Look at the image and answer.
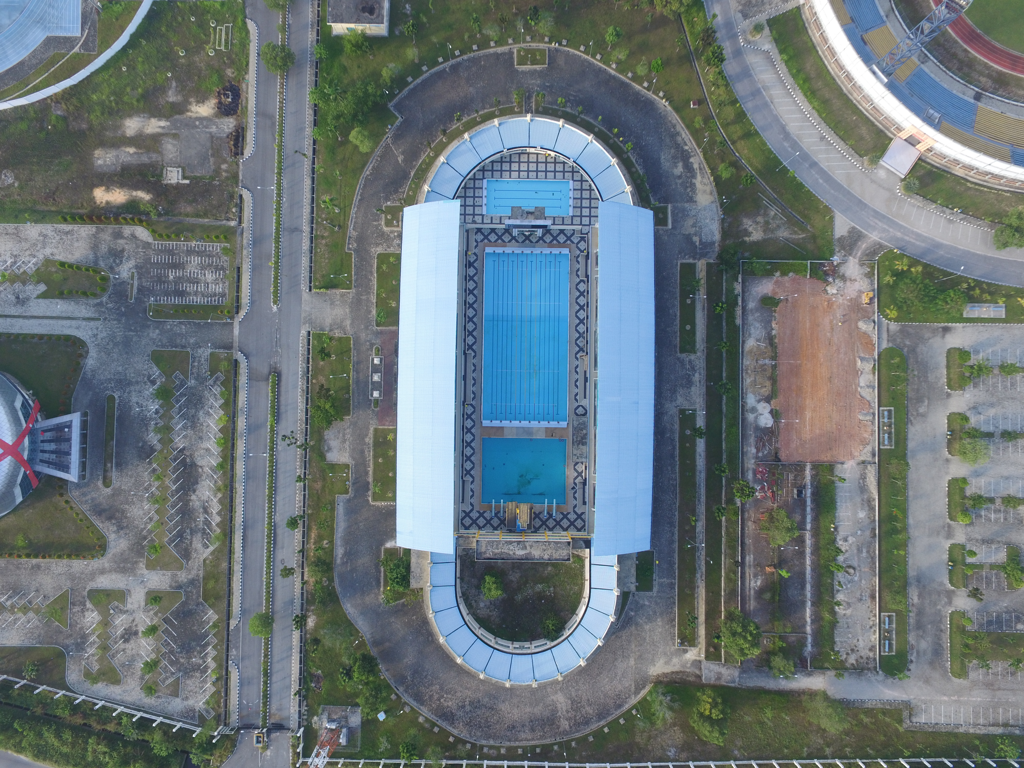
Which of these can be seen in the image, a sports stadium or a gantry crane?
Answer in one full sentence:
Visible in the photo is a sports stadium.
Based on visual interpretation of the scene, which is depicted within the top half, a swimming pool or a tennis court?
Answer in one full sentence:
You can see a swimming pool within the top half.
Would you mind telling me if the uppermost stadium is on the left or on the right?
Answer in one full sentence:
The uppermost stadium sits on the right side.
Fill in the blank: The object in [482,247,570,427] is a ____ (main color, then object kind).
blue swimming pool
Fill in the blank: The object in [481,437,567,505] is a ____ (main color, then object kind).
blue swimming pool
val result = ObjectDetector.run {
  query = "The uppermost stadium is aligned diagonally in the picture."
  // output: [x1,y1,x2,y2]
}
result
[798,0,1024,192]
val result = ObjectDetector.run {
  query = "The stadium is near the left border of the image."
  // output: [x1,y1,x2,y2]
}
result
[0,367,90,539]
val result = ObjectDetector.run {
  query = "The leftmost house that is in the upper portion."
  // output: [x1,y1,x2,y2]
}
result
[326,0,390,36]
